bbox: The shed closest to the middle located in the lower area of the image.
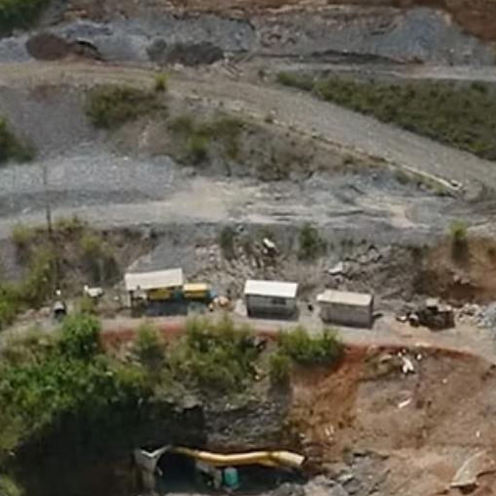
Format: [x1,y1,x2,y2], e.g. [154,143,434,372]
[241,280,302,320]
